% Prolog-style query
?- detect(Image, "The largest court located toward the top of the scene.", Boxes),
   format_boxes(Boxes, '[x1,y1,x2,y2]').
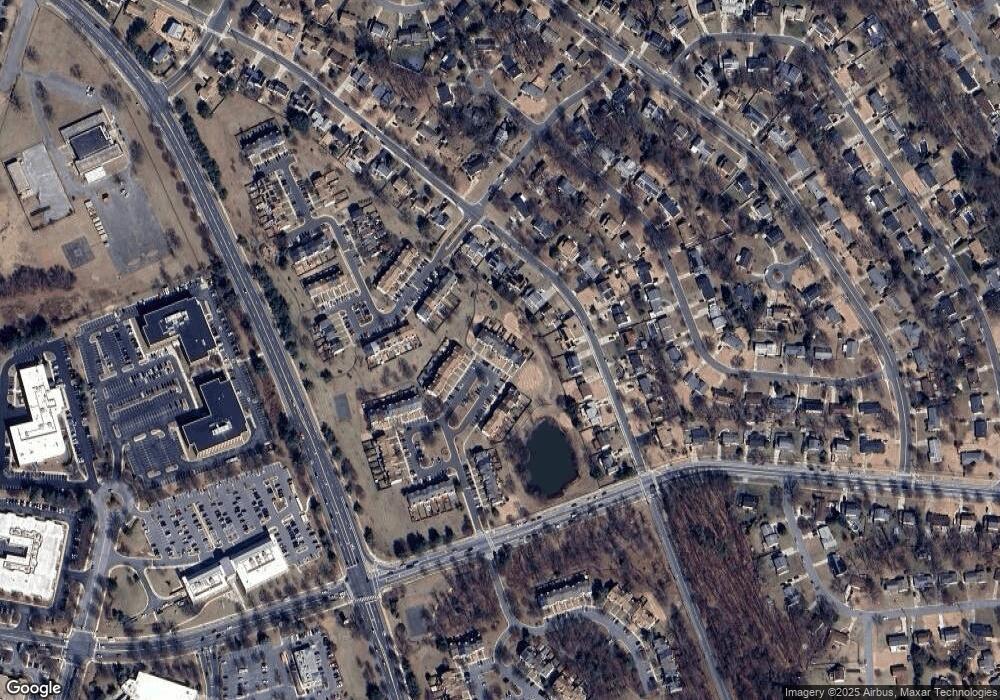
[62,236,95,268]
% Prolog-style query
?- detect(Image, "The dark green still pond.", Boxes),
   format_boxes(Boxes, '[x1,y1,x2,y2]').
[526,421,578,497]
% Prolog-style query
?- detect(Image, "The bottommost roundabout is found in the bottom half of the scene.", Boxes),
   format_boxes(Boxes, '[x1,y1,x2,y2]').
[95,479,134,516]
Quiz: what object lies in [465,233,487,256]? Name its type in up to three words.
house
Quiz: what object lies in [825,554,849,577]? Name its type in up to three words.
house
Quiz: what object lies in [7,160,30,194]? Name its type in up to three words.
building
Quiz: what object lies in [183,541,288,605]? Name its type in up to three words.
building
